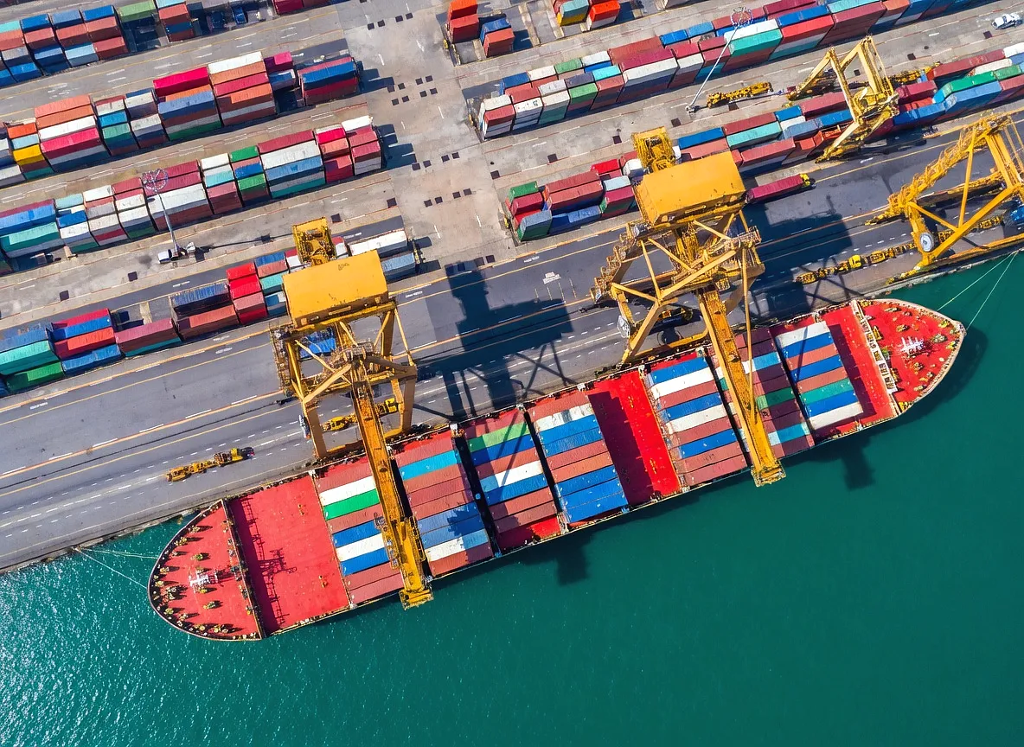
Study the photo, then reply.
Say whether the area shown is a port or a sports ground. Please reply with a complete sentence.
What you see here is a port.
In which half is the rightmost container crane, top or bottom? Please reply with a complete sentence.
The rightmost container crane is in the top half of the image.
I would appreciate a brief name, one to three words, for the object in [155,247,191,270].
truck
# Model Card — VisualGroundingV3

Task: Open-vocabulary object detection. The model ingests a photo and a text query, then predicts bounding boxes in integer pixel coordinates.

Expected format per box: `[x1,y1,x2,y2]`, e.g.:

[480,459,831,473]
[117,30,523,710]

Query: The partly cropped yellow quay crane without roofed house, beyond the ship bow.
[852,113,1024,272]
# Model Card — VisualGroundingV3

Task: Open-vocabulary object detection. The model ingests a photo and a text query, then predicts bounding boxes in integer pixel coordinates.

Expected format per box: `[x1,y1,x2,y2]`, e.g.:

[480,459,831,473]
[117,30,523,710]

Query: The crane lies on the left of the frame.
[258,215,432,609]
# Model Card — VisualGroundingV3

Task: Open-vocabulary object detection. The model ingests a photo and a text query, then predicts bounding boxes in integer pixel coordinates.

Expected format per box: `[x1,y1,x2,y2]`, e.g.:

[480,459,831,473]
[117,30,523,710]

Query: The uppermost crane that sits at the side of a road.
[789,36,906,161]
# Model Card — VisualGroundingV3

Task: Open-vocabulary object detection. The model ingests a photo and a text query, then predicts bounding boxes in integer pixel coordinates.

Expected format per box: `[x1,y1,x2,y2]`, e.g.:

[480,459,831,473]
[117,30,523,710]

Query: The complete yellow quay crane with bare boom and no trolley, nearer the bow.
[583,118,795,484]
